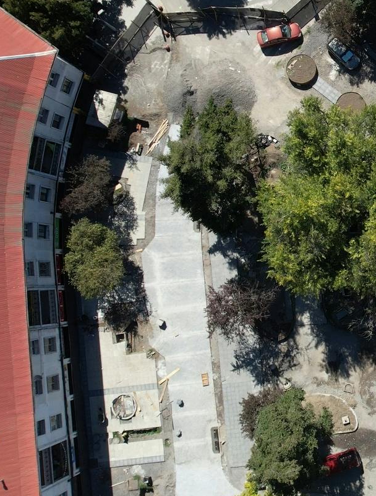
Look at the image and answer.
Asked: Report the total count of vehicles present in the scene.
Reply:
3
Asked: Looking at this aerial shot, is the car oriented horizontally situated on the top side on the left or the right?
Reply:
right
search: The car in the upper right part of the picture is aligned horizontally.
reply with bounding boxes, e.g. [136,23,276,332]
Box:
[255,21,302,46]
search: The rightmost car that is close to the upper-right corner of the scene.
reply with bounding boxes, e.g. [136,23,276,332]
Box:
[324,34,362,68]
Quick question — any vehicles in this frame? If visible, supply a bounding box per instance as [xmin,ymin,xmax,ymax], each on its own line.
[324,34,362,68]
[255,21,302,46]
[314,448,368,480]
